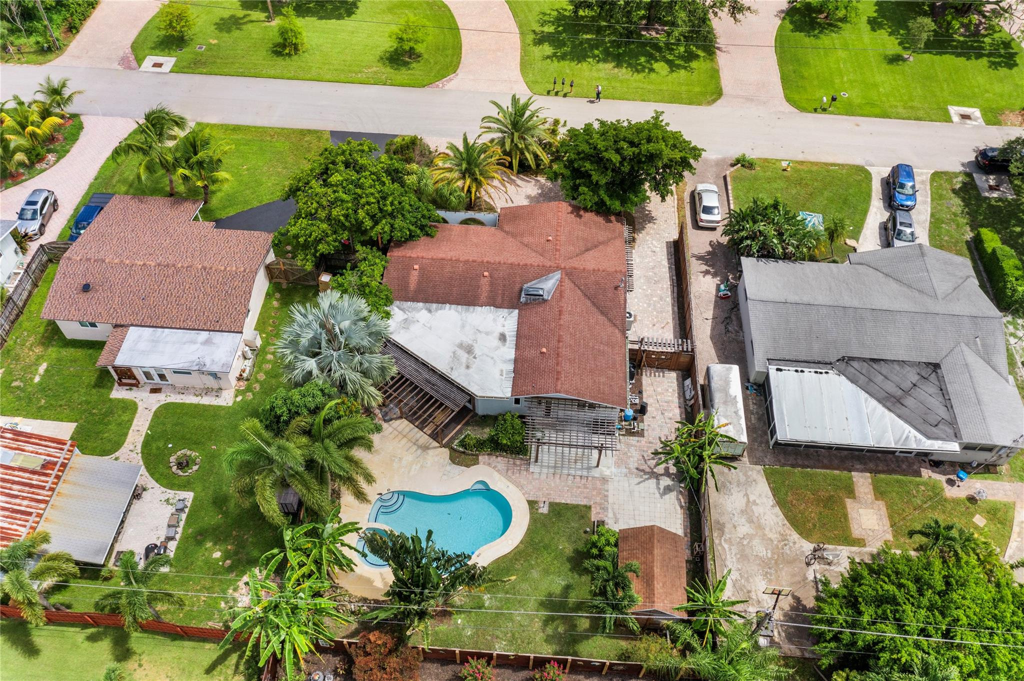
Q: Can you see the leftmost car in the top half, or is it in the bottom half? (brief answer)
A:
top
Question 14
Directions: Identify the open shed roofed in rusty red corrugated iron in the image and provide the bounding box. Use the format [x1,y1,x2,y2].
[0,429,82,534]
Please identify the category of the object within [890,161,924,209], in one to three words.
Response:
car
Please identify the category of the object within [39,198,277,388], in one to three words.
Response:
house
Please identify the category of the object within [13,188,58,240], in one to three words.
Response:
car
